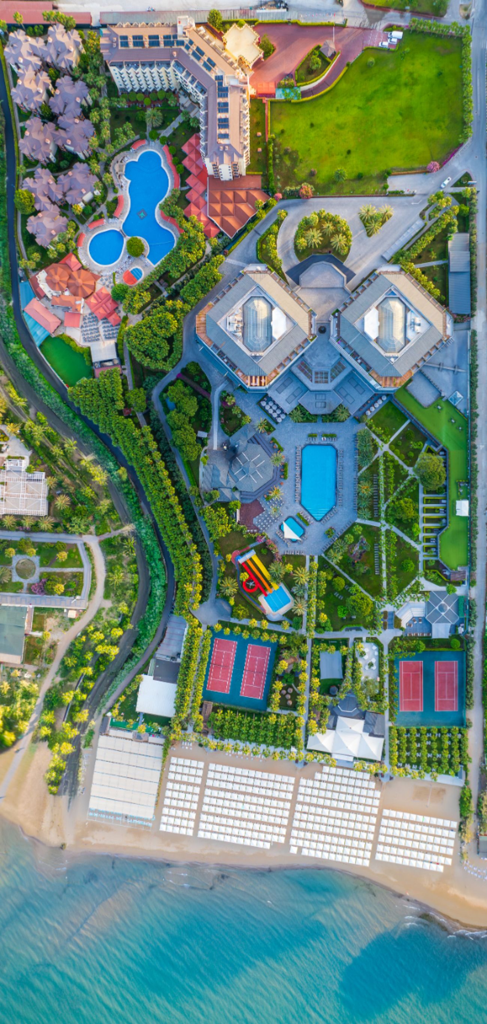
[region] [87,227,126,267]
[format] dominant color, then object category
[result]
blue swimming pool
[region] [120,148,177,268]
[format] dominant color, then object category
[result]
blue swimming pool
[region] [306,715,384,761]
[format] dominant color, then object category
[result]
white tent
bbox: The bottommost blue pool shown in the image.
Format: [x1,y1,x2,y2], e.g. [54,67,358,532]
[263,586,292,613]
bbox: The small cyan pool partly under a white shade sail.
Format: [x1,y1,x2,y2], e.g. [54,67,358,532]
[279,515,305,543]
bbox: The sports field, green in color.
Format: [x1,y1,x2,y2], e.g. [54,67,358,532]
[41,336,92,387]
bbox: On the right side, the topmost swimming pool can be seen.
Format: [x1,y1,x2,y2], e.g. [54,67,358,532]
[300,444,338,522]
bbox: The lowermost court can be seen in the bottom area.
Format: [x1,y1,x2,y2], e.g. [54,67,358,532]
[412,786,446,809]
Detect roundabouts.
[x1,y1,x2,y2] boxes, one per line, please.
[294,212,353,264]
